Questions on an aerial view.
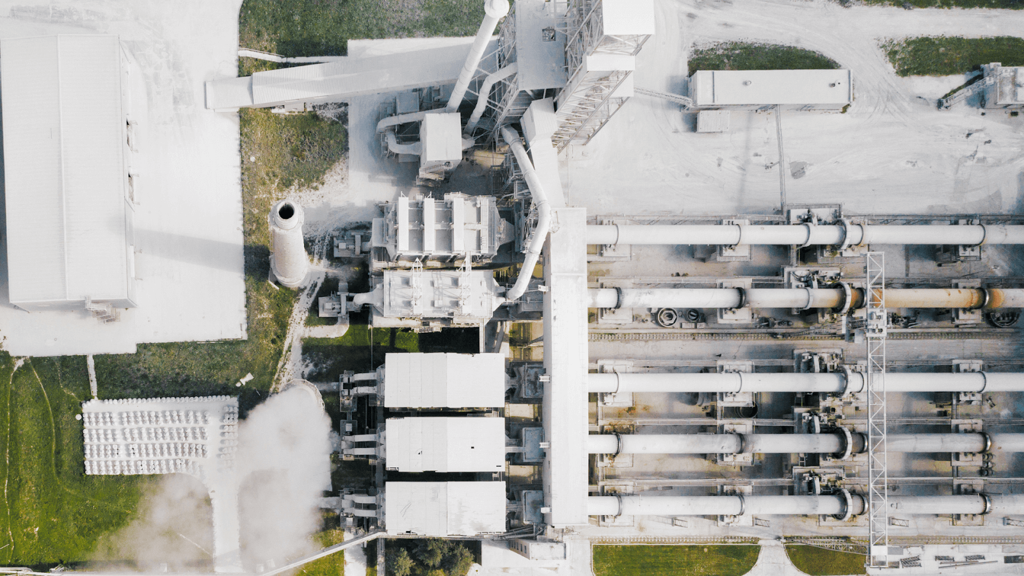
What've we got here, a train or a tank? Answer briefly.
tank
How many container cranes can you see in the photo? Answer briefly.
one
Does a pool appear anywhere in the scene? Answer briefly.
No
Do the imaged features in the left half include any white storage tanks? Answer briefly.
Yes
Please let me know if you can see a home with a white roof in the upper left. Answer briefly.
Yes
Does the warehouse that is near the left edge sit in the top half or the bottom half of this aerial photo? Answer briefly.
top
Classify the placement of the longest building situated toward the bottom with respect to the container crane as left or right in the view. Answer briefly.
on its left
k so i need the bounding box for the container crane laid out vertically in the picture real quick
[765,252,887,567]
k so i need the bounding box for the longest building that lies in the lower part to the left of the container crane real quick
[530,208,588,529]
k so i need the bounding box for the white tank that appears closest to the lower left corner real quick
[269,380,324,435]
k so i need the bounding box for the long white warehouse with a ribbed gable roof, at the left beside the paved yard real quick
[0,33,146,309]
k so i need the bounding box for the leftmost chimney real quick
[268,199,316,296]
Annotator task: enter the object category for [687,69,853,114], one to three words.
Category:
building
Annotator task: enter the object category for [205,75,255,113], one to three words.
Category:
house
